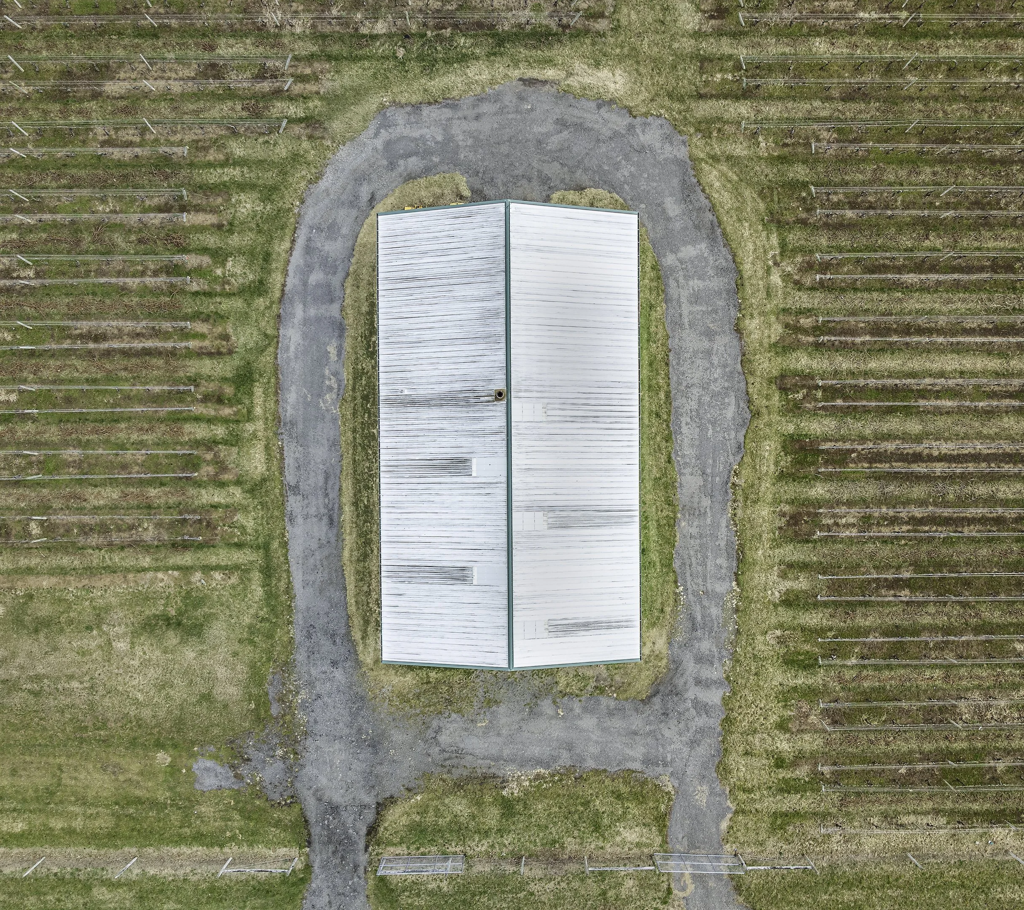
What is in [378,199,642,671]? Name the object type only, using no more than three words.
shed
